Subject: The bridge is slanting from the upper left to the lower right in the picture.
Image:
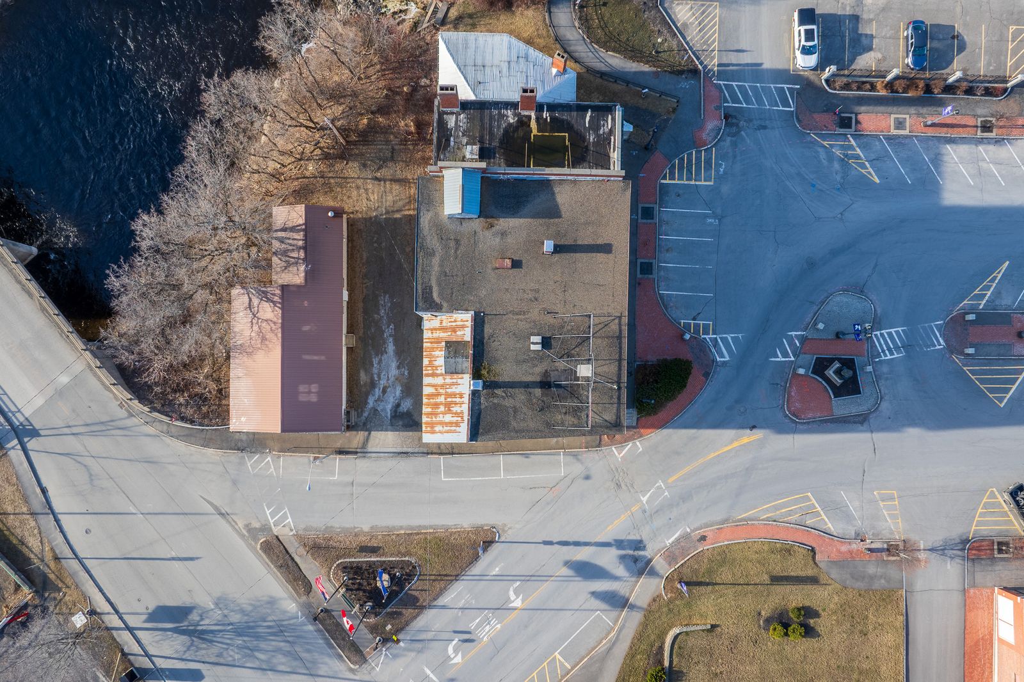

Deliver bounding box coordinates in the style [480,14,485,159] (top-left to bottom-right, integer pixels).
[0,230,231,433]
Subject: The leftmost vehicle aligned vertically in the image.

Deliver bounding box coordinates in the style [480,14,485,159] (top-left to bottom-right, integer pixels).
[793,9,823,71]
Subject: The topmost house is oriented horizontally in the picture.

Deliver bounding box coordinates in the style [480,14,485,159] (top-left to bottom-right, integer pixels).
[438,31,577,103]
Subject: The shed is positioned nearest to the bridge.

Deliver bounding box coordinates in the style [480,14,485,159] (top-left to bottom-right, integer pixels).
[229,204,353,434]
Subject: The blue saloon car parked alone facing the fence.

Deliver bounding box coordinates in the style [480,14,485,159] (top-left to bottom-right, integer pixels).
[905,18,932,71]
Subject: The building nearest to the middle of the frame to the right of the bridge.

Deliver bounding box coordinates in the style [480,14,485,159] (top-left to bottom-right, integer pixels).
[414,162,631,443]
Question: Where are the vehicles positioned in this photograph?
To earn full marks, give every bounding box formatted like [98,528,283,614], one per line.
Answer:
[1006,479,1024,520]
[793,9,823,71]
[905,18,932,71]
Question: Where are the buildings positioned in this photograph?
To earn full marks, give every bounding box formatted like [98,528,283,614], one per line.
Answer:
[438,31,577,103]
[229,204,353,434]
[414,162,631,443]
[994,587,1024,682]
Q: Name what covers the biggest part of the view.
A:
paved ground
